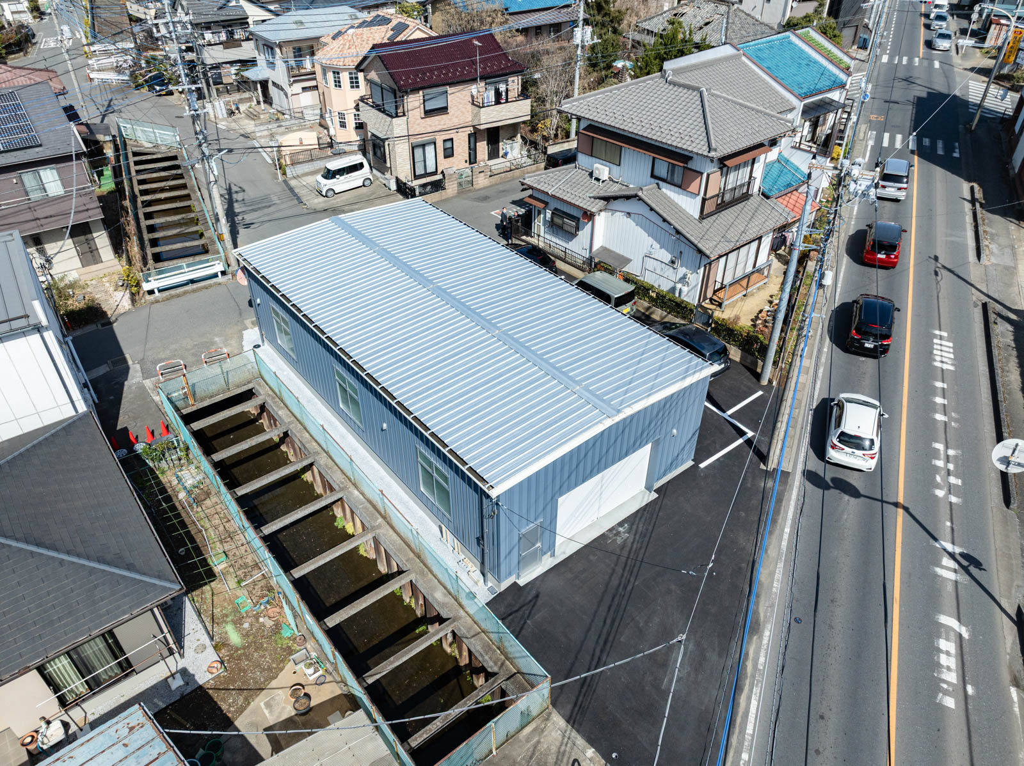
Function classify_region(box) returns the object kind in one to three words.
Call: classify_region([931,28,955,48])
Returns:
car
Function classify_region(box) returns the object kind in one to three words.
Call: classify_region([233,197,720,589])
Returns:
warehouse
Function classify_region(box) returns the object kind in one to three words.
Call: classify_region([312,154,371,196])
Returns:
van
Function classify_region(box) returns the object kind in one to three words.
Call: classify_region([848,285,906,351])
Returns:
car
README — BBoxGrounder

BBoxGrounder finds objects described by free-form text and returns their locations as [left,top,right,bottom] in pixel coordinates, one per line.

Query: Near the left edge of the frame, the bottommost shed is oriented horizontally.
[33,705,172,766]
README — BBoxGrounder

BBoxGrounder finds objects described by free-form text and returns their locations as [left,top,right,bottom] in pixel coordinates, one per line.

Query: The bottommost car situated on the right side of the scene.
[826,385,893,468]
